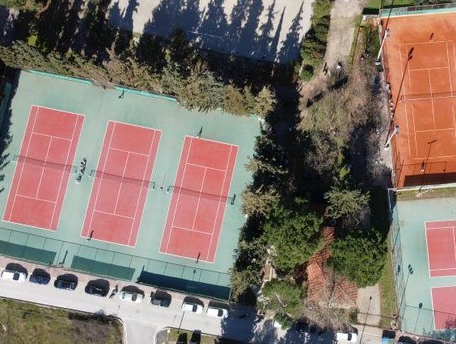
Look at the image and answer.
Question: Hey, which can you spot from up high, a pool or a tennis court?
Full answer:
There is a tennis court in the scene.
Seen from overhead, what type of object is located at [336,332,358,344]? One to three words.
vehicle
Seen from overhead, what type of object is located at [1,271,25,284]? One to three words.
vehicle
